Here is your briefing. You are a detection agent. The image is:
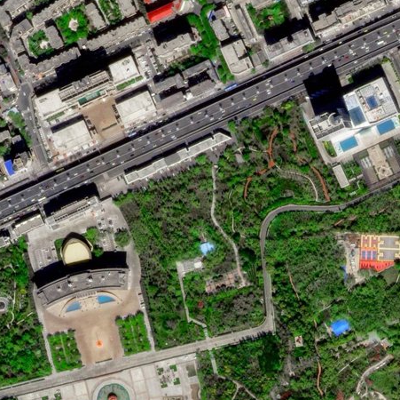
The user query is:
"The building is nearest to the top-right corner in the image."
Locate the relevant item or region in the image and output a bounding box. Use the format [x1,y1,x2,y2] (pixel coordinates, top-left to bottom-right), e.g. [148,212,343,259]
[334,0,388,23]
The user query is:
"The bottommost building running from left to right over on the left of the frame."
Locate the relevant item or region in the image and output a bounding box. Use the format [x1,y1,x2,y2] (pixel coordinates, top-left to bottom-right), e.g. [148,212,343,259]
[37,269,133,308]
